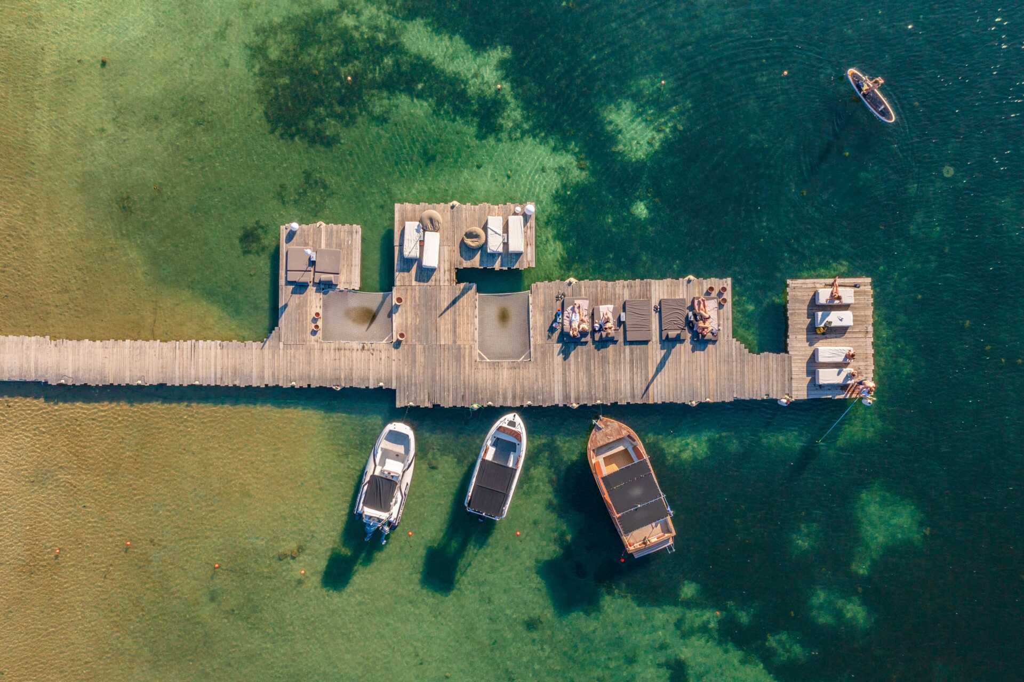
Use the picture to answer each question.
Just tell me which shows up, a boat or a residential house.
boat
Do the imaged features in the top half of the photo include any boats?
No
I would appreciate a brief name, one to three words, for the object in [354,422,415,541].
boat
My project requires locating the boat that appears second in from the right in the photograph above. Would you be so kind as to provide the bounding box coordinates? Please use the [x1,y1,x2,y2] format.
[465,412,526,521]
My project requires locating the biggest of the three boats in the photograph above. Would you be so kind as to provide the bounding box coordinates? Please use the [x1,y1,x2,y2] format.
[588,415,676,554]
